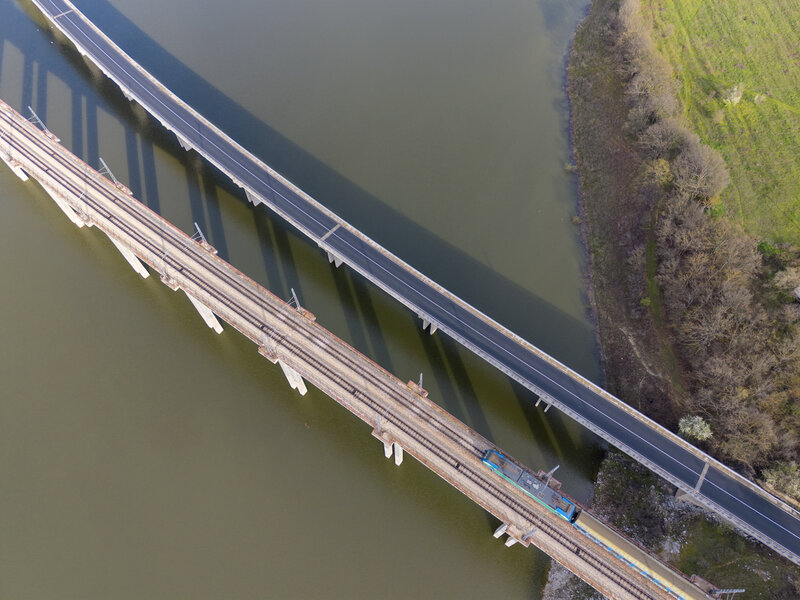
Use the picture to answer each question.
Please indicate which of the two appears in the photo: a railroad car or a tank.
railroad car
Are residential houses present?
No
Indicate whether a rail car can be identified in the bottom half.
Yes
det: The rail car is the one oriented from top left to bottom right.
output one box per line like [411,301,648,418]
[480,449,578,525]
